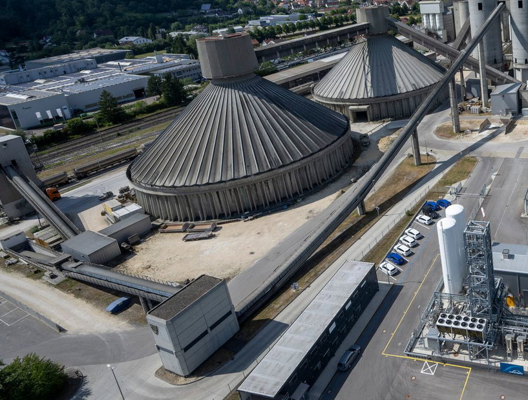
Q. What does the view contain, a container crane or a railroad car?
railroad car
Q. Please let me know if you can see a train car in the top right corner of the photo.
No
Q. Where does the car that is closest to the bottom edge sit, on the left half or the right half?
right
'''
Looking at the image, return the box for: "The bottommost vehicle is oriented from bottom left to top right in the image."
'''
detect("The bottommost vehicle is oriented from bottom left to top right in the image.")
[336,345,360,375]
